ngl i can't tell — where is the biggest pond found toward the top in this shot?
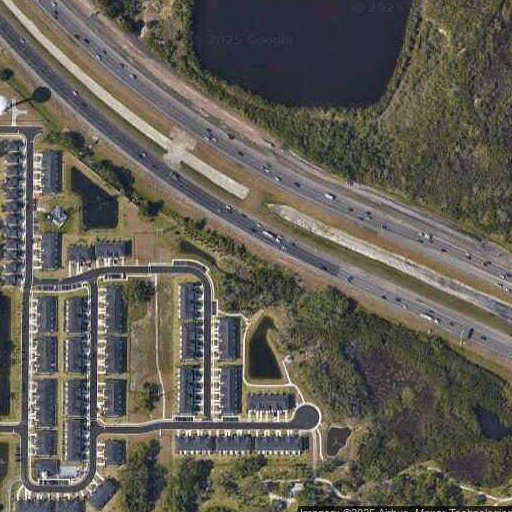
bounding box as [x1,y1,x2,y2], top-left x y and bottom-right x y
[70,166,117,229]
